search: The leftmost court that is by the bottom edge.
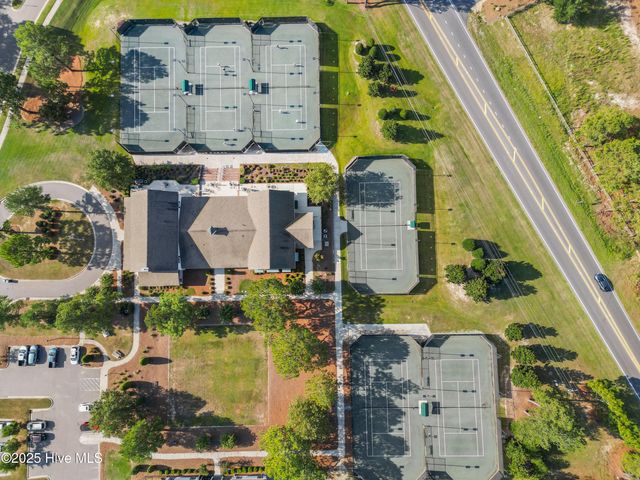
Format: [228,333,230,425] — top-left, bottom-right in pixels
[351,338,426,480]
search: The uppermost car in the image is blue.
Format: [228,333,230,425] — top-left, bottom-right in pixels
[598,273,614,292]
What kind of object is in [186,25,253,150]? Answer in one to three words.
tennis court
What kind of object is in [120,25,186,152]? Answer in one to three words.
tennis court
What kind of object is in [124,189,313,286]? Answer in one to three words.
building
